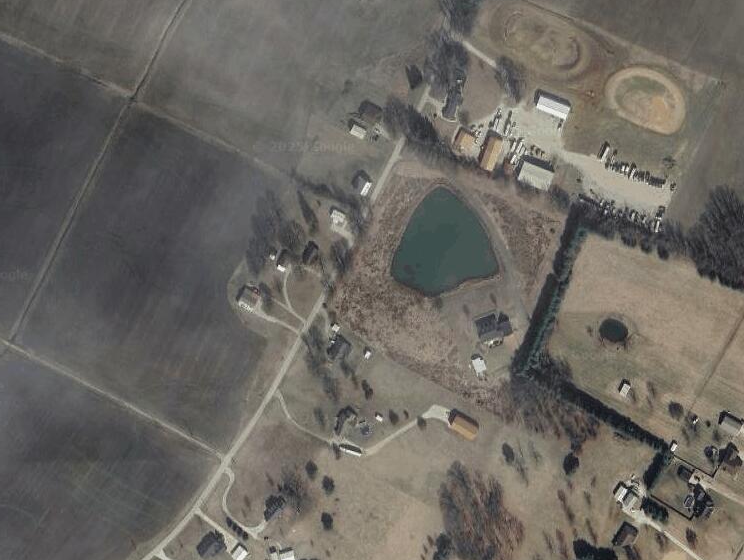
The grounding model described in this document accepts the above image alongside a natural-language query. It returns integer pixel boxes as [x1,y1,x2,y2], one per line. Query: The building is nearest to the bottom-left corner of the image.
[196,529,226,558]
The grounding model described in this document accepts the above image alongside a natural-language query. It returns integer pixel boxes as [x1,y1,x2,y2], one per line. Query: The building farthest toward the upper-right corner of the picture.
[536,94,571,119]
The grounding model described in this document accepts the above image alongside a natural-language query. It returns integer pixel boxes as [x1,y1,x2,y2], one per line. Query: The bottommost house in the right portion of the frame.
[614,523,637,547]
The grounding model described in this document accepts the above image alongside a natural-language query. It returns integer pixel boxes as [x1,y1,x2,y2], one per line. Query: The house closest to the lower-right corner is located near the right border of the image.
[688,485,718,518]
